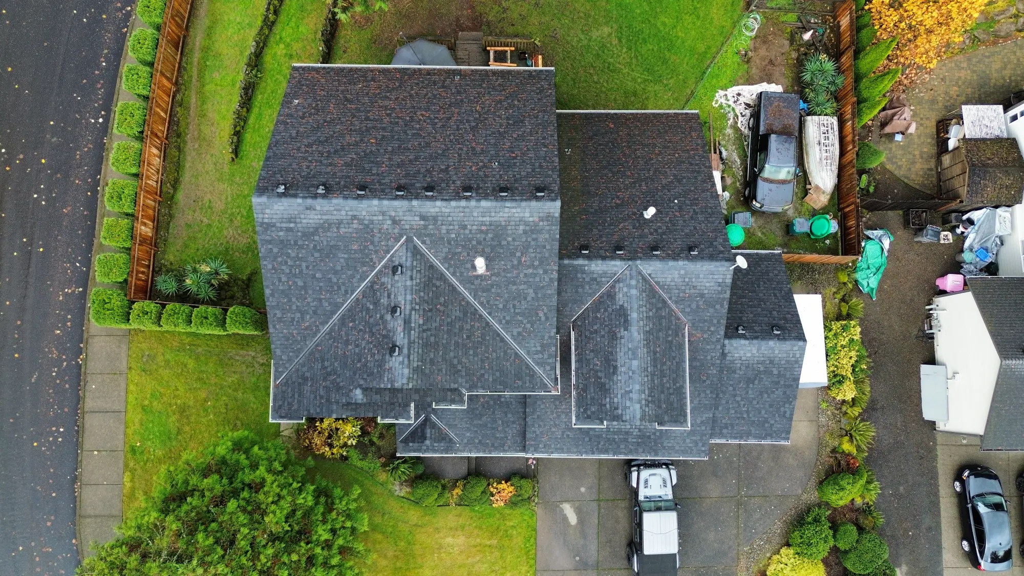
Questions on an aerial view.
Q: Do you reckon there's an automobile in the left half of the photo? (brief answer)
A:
No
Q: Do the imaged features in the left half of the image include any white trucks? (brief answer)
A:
No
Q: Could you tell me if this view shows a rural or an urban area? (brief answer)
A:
urban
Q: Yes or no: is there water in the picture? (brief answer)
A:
No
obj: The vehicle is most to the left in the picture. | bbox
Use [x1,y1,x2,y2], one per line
[624,459,681,576]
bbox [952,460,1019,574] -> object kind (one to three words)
car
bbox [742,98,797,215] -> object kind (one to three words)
truck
